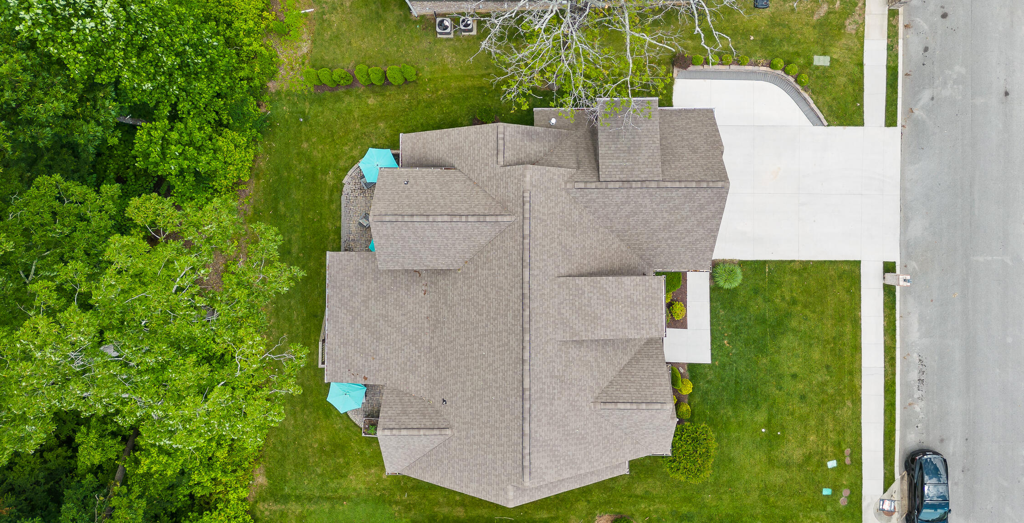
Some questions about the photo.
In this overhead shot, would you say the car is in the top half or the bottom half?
bottom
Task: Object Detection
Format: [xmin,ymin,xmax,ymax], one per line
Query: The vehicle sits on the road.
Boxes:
[904,449,953,523]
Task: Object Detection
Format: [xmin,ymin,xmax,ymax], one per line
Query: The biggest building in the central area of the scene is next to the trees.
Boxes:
[318,96,730,506]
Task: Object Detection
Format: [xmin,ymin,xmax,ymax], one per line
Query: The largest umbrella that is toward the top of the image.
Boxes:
[358,147,399,183]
